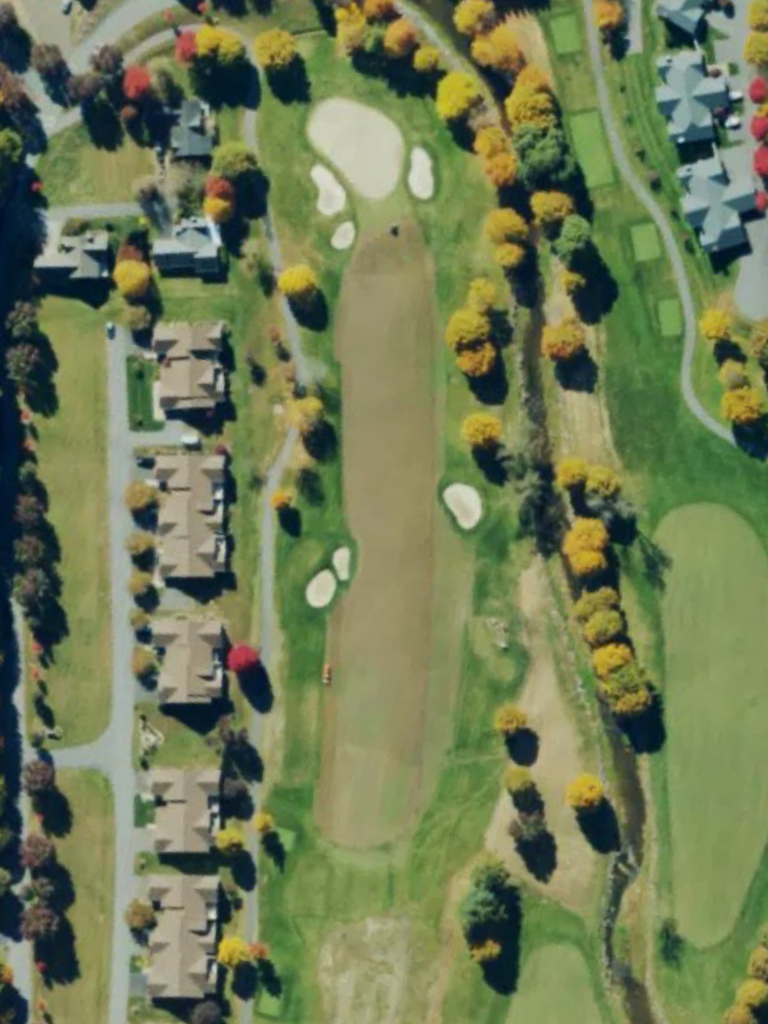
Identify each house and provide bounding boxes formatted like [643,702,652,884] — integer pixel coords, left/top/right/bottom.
[150,619,223,704]
[152,320,224,409]
[150,768,219,854]
[154,454,224,578]
[653,51,731,148]
[675,160,758,256]
[146,875,218,1000]
[34,231,109,279]
[171,100,213,157]
[154,215,221,273]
